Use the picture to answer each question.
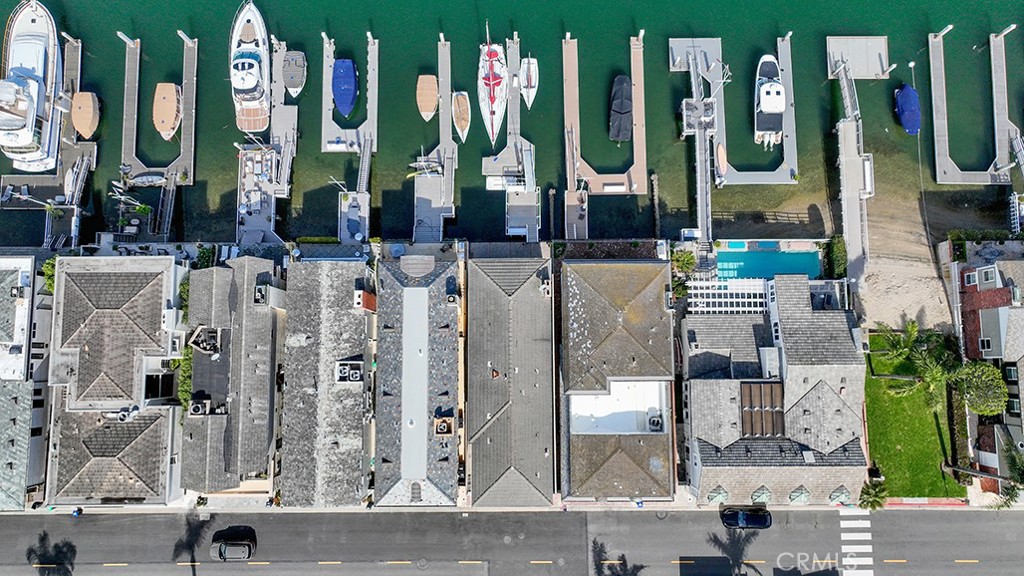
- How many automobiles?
two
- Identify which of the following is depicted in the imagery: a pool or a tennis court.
pool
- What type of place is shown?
residential area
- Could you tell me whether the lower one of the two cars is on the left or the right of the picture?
left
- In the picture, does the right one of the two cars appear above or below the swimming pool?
below it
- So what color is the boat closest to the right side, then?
blue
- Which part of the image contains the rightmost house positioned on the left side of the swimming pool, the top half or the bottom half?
bottom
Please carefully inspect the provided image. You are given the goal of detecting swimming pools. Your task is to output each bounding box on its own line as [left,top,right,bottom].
[679,236,835,283]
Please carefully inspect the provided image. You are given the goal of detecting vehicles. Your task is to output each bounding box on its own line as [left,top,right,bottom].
[211,539,257,564]
[718,506,771,531]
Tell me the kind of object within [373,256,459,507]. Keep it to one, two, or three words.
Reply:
house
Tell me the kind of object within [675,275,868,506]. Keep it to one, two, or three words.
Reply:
house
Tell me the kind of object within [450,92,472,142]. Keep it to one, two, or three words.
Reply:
boat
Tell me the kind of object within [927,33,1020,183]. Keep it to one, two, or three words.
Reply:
pier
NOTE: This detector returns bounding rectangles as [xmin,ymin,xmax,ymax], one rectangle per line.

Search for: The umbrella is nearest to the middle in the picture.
[388,242,404,257]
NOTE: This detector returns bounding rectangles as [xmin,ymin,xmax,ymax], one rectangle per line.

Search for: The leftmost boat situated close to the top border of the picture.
[0,0,69,172]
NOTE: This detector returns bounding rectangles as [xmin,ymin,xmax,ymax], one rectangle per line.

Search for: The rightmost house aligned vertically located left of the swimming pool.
[562,259,676,501]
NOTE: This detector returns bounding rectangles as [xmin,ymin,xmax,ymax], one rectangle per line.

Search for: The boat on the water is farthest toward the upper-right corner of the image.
[890,81,922,137]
